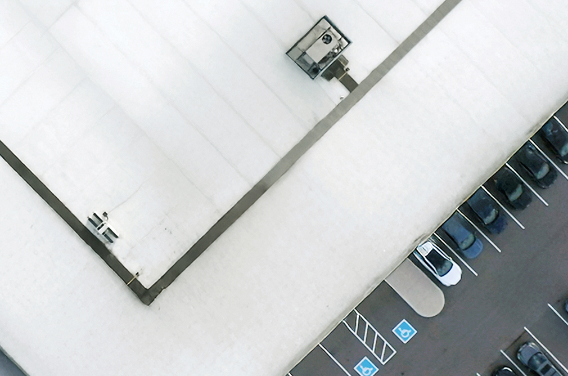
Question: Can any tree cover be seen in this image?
No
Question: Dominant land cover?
buildings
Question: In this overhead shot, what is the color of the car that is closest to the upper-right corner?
black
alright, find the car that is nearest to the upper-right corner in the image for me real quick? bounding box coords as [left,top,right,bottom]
[532,118,568,164]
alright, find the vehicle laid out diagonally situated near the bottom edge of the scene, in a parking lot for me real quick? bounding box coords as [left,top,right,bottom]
[514,340,567,376]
